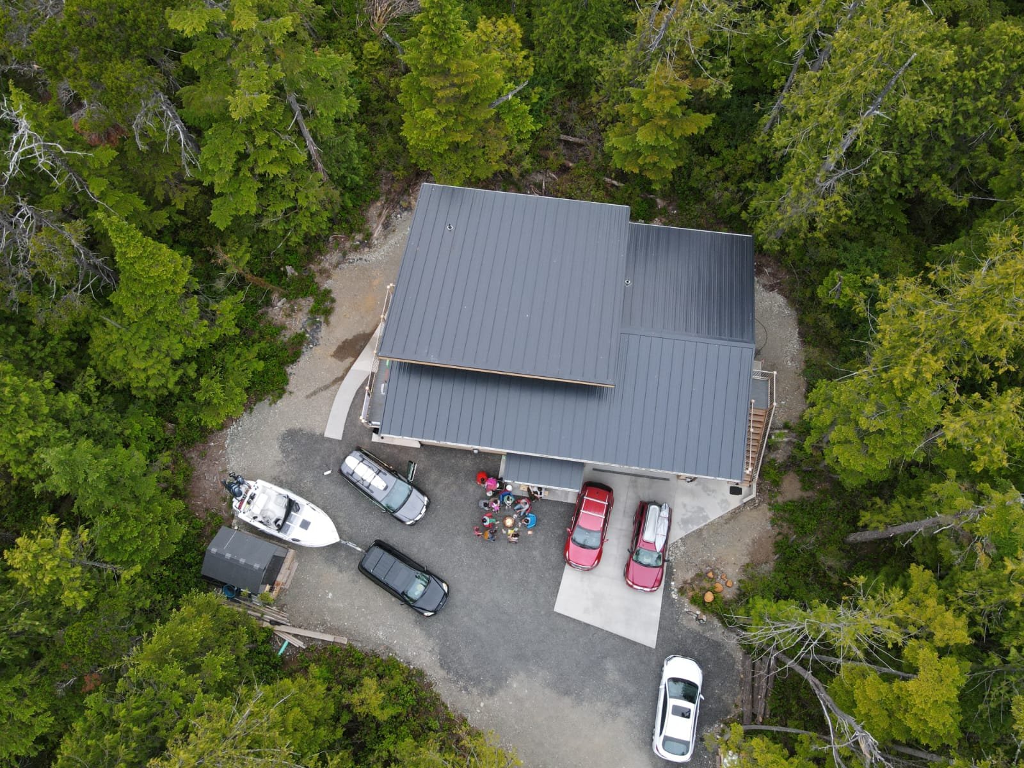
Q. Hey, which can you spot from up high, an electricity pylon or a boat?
boat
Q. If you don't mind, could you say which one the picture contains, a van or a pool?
van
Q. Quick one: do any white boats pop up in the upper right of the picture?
No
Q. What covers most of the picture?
trees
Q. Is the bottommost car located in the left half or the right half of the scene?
right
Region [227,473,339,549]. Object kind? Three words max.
boat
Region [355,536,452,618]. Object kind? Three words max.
van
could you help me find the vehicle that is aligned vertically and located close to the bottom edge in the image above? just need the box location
[649,654,705,764]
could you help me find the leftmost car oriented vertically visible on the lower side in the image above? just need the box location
[561,480,616,574]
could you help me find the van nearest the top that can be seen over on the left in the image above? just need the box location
[337,448,431,526]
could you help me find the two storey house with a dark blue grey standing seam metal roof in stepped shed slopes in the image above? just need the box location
[379,183,762,498]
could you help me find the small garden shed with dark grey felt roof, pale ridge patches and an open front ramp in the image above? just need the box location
[204,525,290,594]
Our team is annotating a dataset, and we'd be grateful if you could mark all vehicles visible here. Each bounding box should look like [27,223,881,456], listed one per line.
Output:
[337,448,431,526]
[561,480,616,574]
[649,654,705,764]
[622,499,670,596]
[355,536,452,618]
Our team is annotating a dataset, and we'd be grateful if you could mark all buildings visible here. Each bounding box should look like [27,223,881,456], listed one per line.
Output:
[204,525,290,594]
[379,183,762,498]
